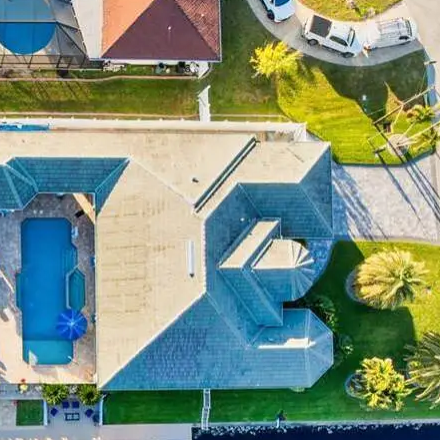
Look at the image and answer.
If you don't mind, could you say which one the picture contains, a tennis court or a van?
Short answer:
van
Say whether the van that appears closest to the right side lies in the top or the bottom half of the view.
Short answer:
top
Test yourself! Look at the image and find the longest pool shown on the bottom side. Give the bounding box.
[13,214,80,367]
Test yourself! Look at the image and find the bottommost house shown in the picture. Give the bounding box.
[0,132,335,388]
